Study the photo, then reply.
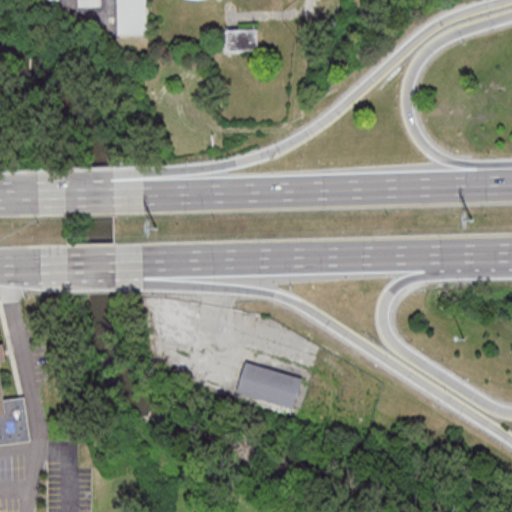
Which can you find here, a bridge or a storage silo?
bridge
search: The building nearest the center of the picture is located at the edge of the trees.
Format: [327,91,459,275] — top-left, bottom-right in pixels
[237,360,304,410]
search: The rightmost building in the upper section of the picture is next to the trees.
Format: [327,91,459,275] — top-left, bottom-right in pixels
[222,28,260,56]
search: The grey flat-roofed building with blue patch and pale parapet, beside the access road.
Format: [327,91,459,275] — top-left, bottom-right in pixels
[0,398,32,443]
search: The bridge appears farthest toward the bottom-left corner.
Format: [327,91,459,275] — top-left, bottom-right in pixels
[67,242,116,294]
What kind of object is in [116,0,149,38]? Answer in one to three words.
building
